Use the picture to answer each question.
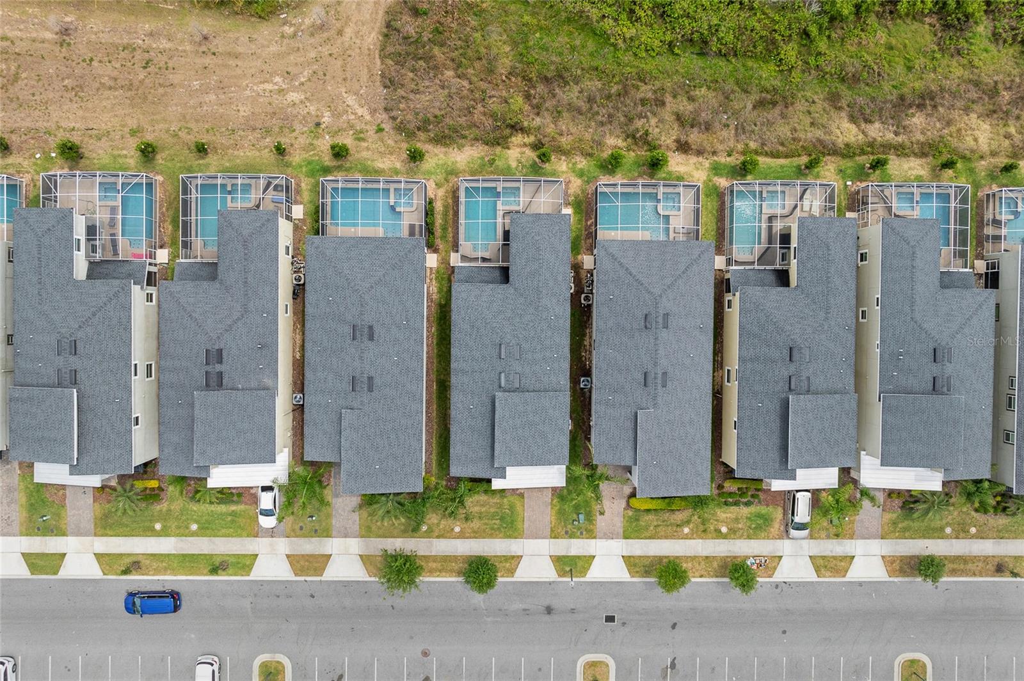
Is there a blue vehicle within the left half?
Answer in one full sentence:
Yes, the scene does show a blue vehicle within the left half.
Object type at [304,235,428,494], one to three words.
house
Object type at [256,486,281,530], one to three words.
car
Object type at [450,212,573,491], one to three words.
house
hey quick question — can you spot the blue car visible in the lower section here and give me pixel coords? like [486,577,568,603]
[129,589,183,616]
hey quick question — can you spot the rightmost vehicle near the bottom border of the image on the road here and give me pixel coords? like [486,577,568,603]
[198,653,222,681]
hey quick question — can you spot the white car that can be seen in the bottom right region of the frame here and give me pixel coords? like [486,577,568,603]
[784,491,812,540]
